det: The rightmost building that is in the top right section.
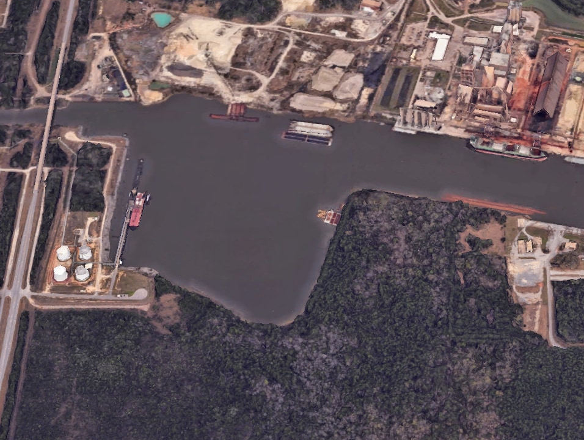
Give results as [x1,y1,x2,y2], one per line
[533,53,568,119]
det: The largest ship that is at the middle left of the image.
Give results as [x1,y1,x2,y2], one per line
[129,193,147,228]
